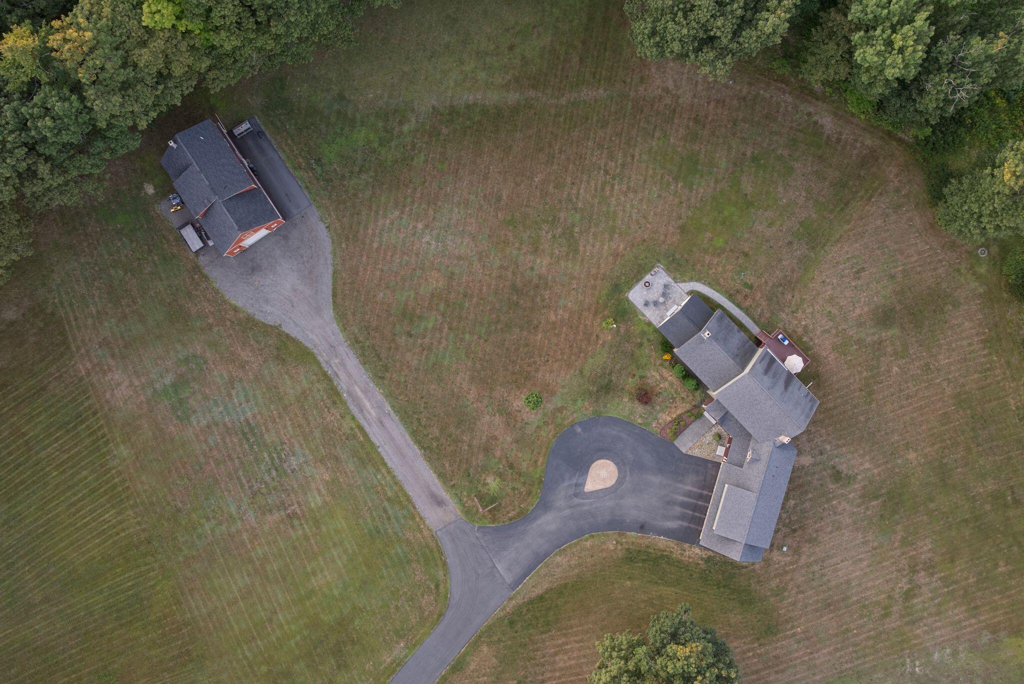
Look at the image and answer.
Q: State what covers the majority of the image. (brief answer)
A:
grass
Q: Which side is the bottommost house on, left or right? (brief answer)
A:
right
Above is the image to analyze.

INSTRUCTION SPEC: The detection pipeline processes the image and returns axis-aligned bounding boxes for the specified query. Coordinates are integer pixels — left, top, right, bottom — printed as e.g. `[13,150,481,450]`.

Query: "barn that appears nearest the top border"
[161,119,285,257]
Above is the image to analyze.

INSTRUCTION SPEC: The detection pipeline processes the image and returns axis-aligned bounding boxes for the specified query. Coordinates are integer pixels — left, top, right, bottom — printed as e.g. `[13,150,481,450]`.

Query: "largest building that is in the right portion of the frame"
[656,292,819,562]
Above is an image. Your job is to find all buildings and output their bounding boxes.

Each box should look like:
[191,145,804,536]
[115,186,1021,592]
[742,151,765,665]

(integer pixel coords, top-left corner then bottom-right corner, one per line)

[656,292,819,562]
[161,119,285,257]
